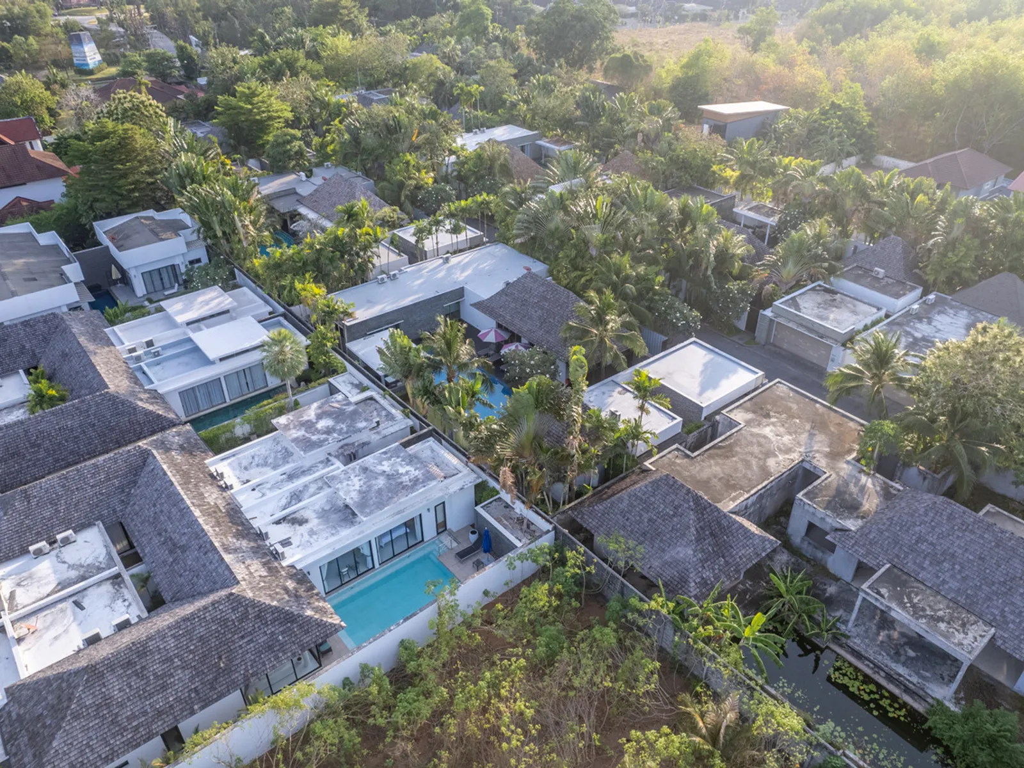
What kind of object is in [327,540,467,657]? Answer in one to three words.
swimming pool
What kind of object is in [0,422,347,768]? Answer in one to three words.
house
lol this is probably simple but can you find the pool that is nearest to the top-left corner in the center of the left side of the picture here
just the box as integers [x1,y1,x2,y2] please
[80,290,134,325]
